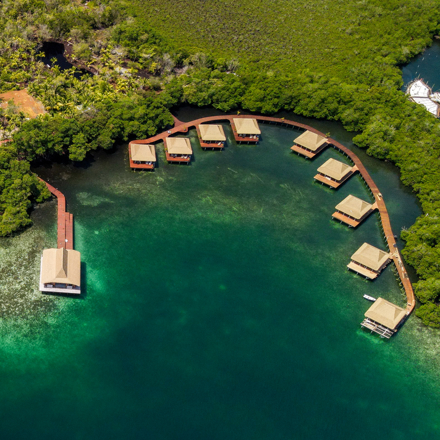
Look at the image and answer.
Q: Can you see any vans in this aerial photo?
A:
No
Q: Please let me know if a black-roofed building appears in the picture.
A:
No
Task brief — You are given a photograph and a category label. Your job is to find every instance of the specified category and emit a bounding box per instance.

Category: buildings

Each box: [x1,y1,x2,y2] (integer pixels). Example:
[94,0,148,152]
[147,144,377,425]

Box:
[344,243,390,281]
[288,133,327,160]
[160,139,192,165]
[36,249,80,297]
[329,197,373,229]
[192,126,226,151]
[124,147,156,172]
[312,160,353,191]
[227,120,261,144]
[355,298,407,342]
